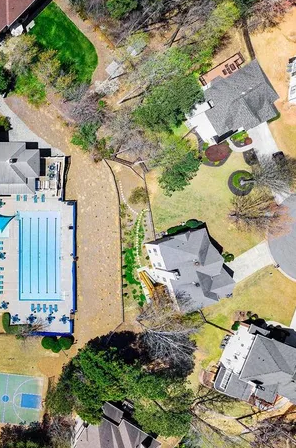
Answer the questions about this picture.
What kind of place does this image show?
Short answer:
residential area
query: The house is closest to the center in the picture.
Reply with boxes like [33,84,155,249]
[137,227,235,313]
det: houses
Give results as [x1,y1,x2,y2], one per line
[205,322,296,414]
[66,415,161,448]
[0,142,39,195]
[137,227,235,313]
[0,0,42,37]
[187,52,279,141]
[287,65,296,109]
